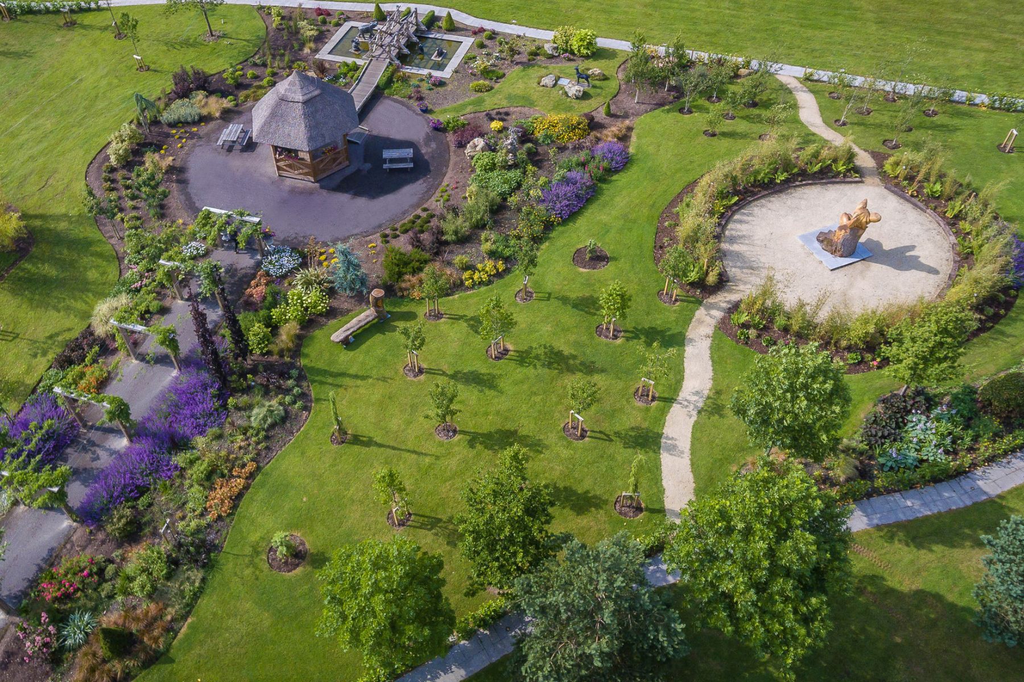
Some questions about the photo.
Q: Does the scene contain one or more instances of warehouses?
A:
No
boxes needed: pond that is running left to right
[315,20,475,77]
